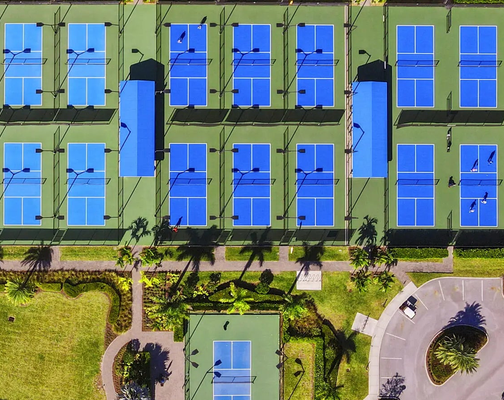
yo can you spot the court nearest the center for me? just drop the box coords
[233,144,270,226]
